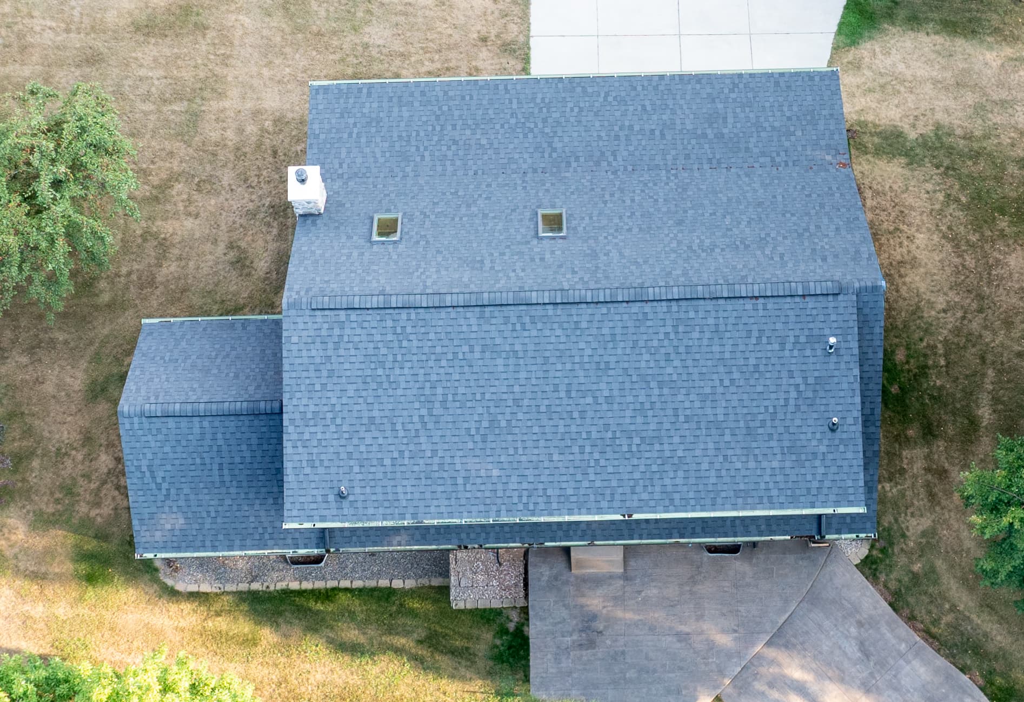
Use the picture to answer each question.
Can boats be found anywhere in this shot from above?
No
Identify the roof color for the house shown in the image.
blue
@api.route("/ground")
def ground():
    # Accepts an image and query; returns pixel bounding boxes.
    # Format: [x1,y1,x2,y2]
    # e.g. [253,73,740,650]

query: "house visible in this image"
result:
[117,66,888,559]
